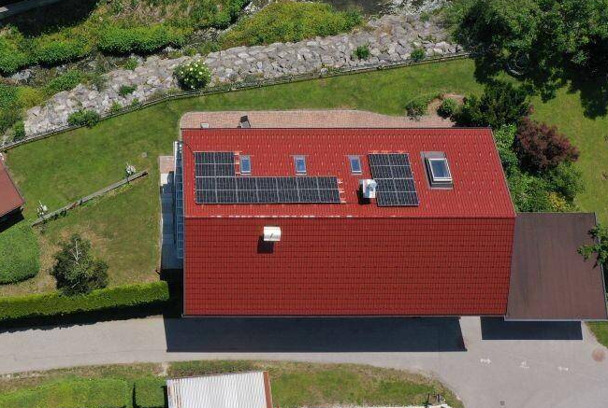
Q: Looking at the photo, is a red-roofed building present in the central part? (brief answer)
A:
Yes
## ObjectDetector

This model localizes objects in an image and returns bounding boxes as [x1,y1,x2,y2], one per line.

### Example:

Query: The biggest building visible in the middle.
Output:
[182,127,516,317]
